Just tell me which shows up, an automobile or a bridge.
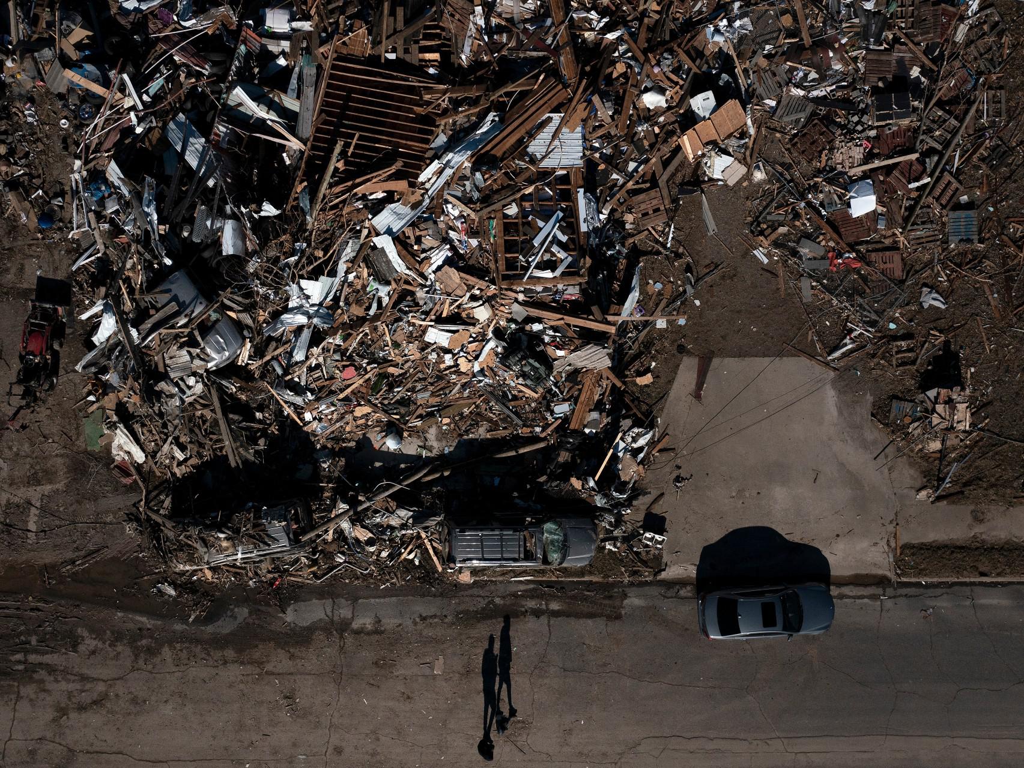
automobile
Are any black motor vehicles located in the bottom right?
Yes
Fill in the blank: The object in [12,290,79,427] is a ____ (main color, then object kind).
black work vehicle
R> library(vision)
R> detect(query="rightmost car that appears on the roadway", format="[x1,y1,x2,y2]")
[694,577,834,643]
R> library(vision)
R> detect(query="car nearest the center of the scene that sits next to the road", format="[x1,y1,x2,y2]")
[450,511,596,570]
